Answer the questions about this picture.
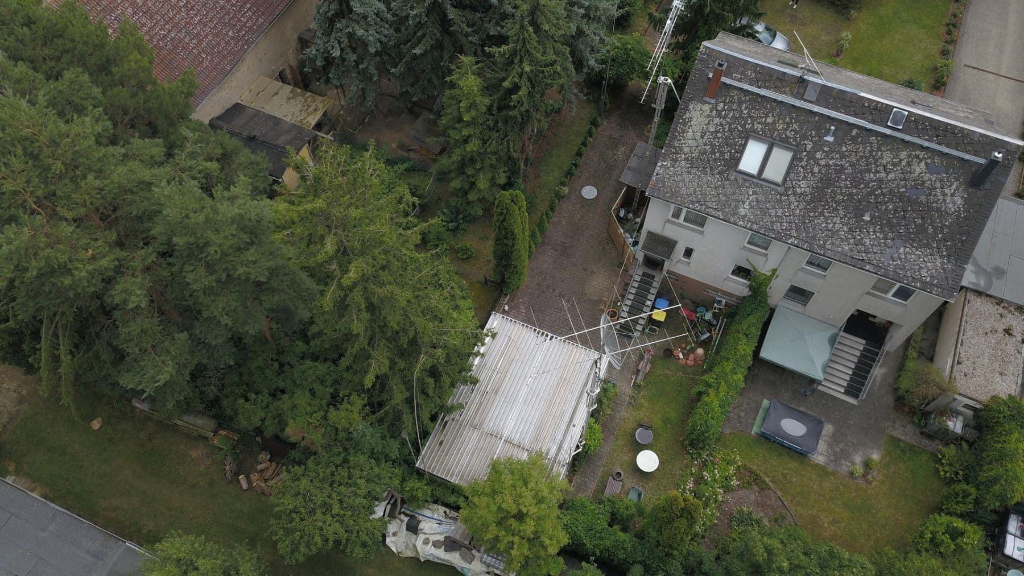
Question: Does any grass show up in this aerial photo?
Yes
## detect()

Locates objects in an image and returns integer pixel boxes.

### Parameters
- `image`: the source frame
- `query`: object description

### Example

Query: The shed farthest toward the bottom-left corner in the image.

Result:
[0,478,180,576]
